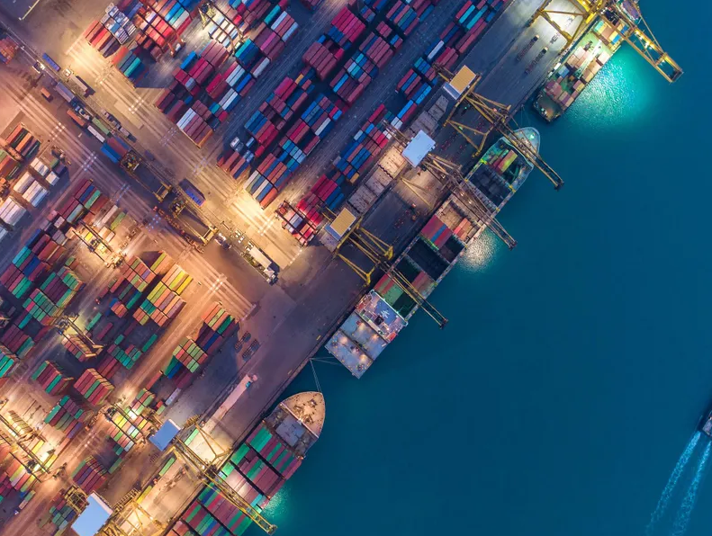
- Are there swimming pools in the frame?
No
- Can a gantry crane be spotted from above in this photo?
Yes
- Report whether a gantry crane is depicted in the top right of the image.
Yes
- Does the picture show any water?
Yes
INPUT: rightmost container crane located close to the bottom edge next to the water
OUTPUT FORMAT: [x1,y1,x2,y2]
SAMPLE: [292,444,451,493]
[147,411,278,535]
